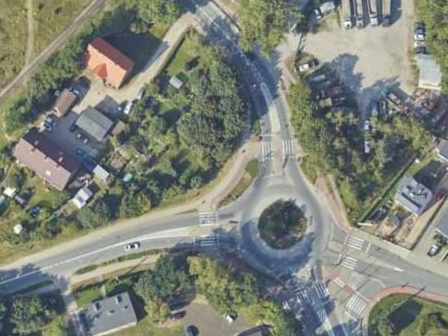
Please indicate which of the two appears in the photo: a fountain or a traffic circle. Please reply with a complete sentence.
I can see a traffic circle in this picture.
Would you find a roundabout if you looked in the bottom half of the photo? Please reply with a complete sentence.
Yes, looking in the bottom half of the photo, one can make out a roundabout.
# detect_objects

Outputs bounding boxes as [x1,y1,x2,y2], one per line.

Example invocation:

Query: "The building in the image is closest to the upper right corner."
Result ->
[418,57,442,90]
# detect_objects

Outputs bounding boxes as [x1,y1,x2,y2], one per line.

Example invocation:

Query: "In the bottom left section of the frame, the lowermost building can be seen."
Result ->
[82,293,138,336]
